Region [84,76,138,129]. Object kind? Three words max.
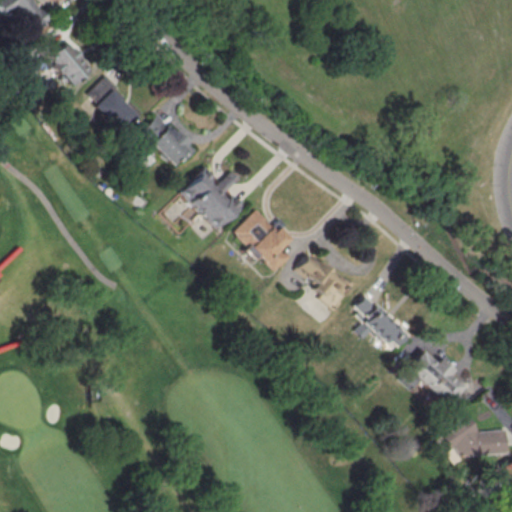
house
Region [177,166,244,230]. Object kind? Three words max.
house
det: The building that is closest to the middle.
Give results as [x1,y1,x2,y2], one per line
[232,209,296,272]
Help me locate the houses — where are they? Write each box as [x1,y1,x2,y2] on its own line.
[448,423,512,460]
[353,298,413,352]
[148,116,196,166]
[294,256,353,306]
[232,209,296,272]
[413,350,473,399]
[0,0,45,22]
[84,76,138,129]
[177,166,244,230]
[52,40,96,90]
